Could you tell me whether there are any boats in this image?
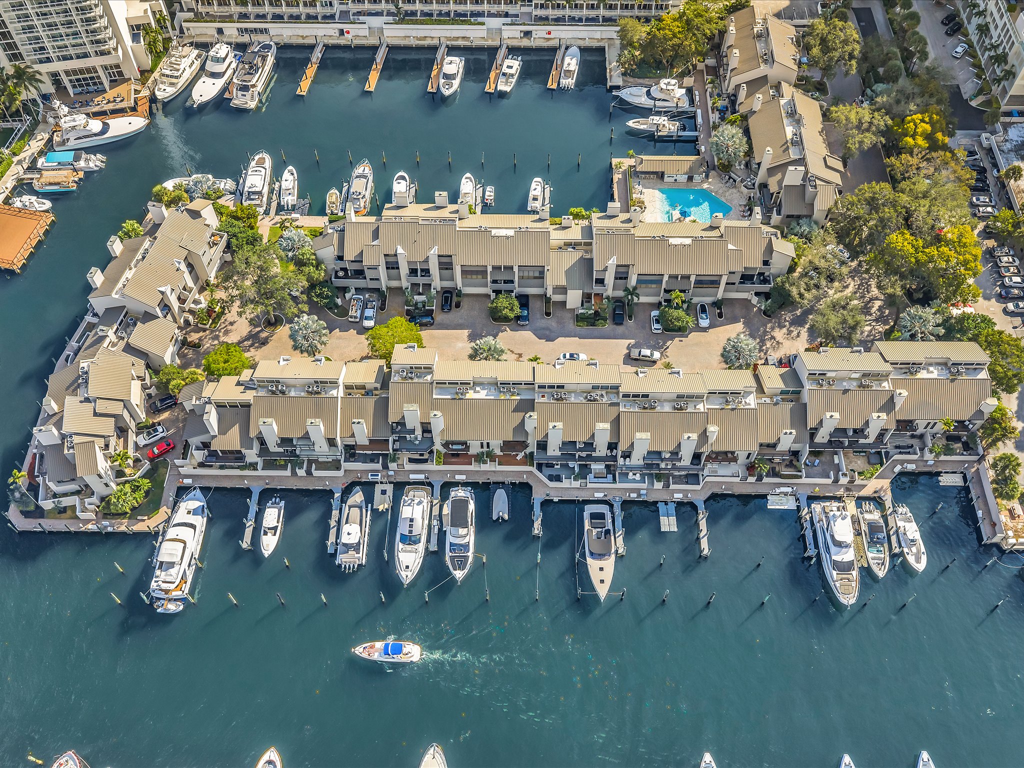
Yes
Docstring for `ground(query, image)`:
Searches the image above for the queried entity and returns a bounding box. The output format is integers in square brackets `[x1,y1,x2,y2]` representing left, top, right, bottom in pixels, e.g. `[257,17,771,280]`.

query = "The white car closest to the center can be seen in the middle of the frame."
[561,351,586,363]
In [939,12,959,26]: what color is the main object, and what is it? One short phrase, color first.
black car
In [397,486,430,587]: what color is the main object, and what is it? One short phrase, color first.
white boat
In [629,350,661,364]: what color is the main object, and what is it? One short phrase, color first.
white vehicle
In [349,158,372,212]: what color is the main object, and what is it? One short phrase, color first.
white boat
